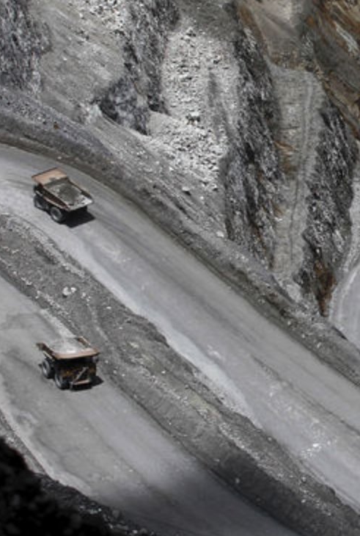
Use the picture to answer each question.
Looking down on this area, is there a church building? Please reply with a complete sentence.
No, no church building can be seen from above.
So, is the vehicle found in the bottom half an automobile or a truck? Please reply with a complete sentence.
Specifically, the vehicle found in the bottom half is a truck.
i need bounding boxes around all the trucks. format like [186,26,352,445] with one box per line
[28,169,87,227]
[39,326,101,390]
